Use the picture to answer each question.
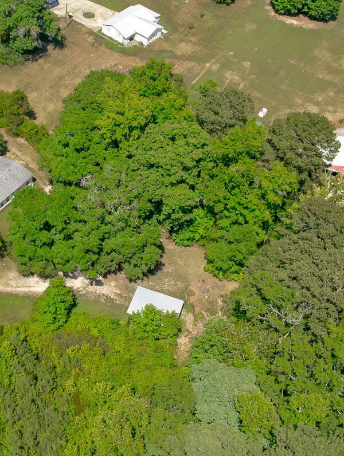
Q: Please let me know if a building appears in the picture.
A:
Yes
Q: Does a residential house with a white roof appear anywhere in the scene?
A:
Yes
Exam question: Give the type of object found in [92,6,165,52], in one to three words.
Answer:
house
